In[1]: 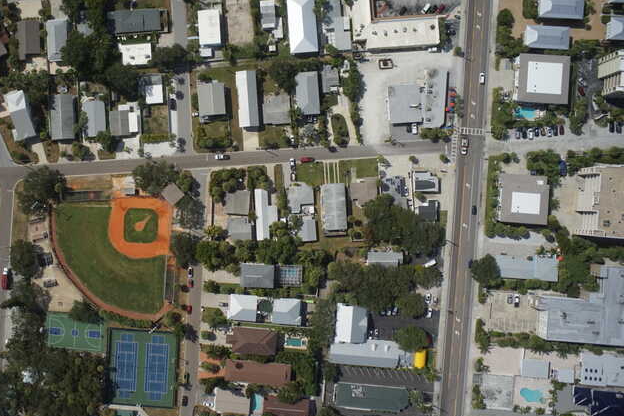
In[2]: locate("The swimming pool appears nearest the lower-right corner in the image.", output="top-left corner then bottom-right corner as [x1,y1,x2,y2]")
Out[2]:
[519,387,545,403]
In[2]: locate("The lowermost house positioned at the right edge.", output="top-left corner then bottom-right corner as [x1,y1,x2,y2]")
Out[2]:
[569,384,624,416]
